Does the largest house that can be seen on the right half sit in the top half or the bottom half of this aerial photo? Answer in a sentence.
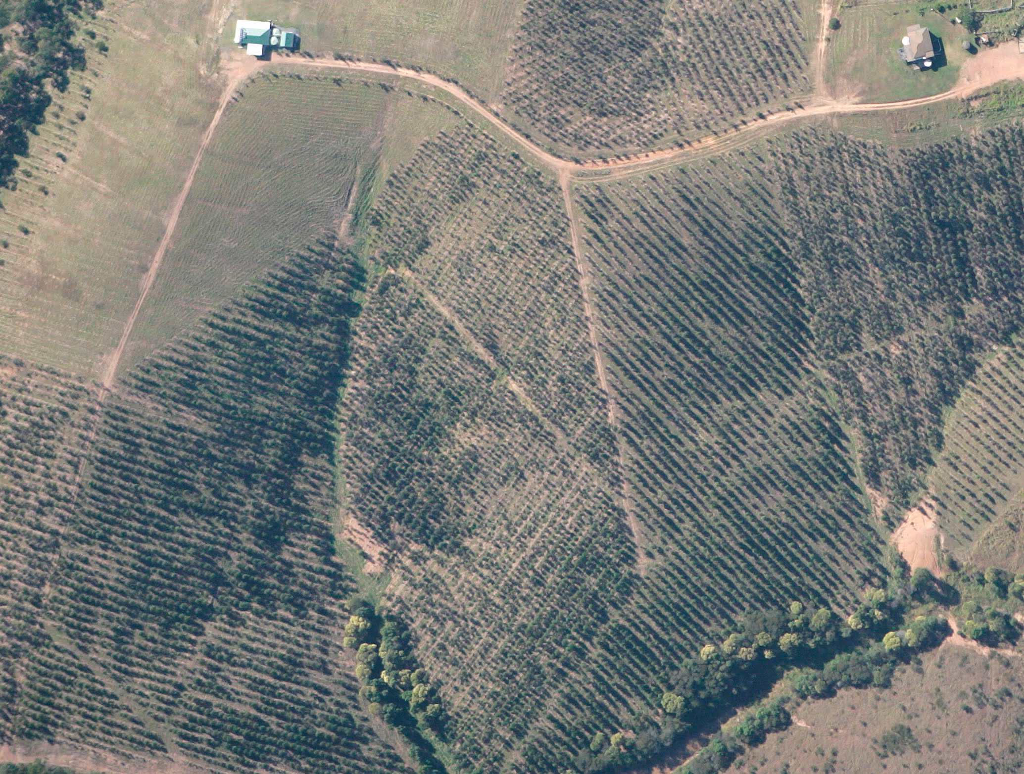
The largest house that can be seen on the right half is in the top half of the image.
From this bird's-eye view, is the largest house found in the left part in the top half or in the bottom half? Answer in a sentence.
It is in the top half that the largest house found in the left part appears.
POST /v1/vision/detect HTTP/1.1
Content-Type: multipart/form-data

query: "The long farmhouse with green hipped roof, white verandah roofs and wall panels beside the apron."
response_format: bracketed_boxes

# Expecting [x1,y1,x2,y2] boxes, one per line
[235,20,271,45]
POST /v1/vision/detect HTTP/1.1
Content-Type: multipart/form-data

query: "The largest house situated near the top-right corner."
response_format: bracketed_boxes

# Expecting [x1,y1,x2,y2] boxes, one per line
[904,24,934,68]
